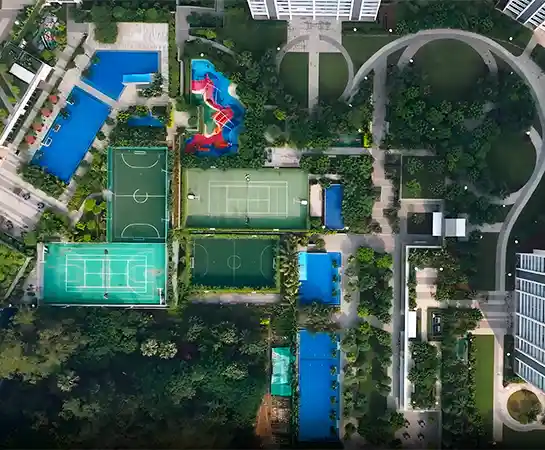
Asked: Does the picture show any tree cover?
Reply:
Yes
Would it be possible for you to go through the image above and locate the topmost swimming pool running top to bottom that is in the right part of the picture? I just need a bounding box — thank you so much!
[324,184,343,230]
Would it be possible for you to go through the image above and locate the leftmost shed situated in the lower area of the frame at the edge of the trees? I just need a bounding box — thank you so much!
[272,347,291,396]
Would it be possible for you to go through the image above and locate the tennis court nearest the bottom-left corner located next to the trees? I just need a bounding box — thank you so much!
[44,244,166,305]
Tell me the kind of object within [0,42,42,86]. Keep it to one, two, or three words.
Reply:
house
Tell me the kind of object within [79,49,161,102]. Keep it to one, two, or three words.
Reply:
swimming pool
